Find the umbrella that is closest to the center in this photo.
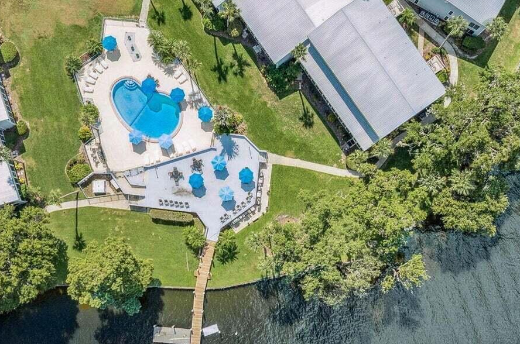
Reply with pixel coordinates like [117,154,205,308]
[239,169,253,183]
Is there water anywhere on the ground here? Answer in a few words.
Yes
